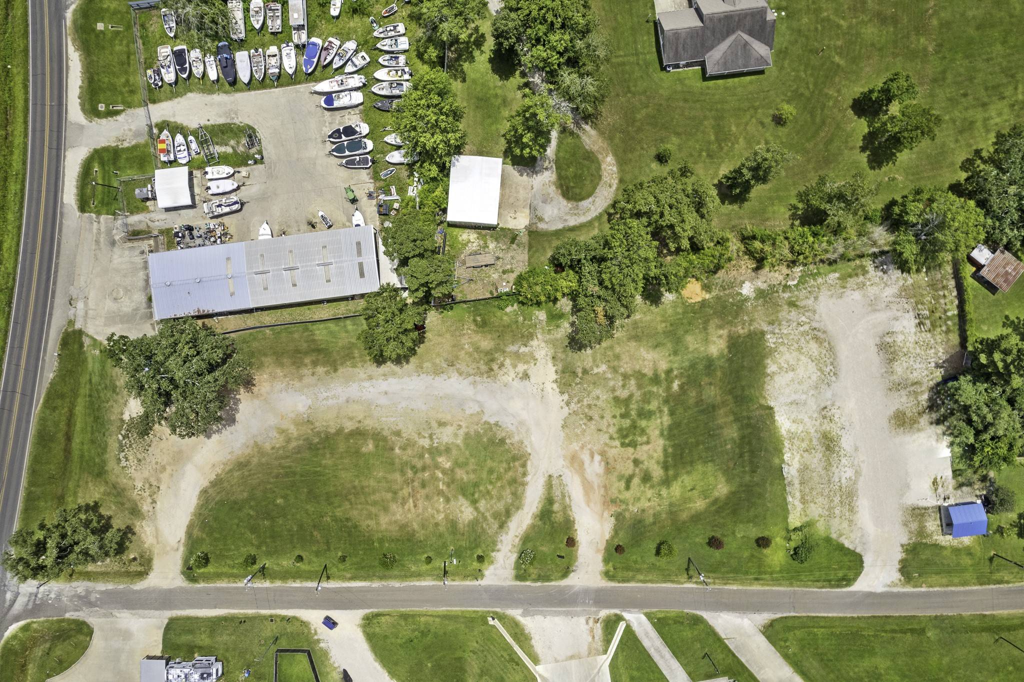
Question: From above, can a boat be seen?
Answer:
Yes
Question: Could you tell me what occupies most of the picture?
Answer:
grass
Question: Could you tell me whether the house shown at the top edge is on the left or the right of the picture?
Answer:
right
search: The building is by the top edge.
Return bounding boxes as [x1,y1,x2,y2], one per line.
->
[657,0,776,78]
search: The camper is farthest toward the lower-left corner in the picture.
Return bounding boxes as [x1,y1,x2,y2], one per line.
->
[166,658,226,682]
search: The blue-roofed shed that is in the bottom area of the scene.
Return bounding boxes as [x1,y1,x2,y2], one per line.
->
[943,502,987,538]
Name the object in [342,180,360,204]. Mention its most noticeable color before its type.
green work vehicle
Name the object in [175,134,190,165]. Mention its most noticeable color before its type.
white boat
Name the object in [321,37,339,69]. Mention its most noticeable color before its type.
white boat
